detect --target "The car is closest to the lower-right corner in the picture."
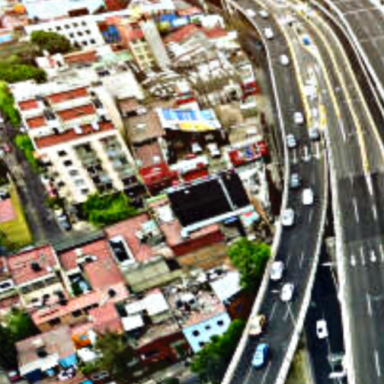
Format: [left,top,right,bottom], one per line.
[314,319,329,341]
